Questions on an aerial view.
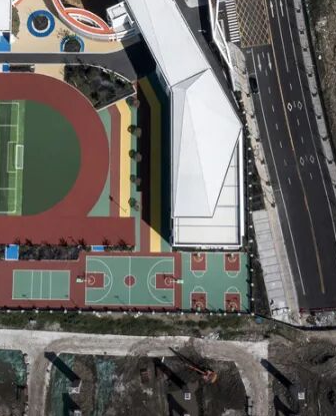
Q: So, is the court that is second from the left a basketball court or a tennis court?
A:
basketball court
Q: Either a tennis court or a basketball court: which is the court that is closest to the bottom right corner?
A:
basketball court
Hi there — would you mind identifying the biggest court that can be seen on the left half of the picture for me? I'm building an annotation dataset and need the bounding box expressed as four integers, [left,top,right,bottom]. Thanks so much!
[85,257,174,306]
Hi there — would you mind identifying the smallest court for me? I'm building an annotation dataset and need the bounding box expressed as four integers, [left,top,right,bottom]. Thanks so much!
[13,271,71,301]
